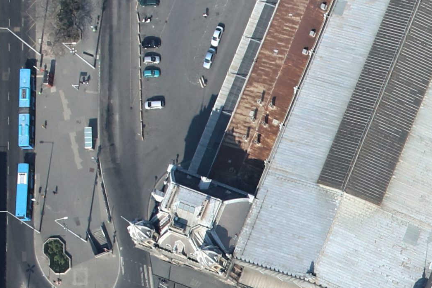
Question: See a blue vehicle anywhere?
Yes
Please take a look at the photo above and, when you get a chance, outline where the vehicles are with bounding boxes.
[18,68,35,150]
[144,54,162,64]
[144,68,162,78]
[142,39,163,50]
[16,163,33,222]
[140,0,161,8]
[203,49,217,70]
[144,100,165,110]
[211,26,225,49]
